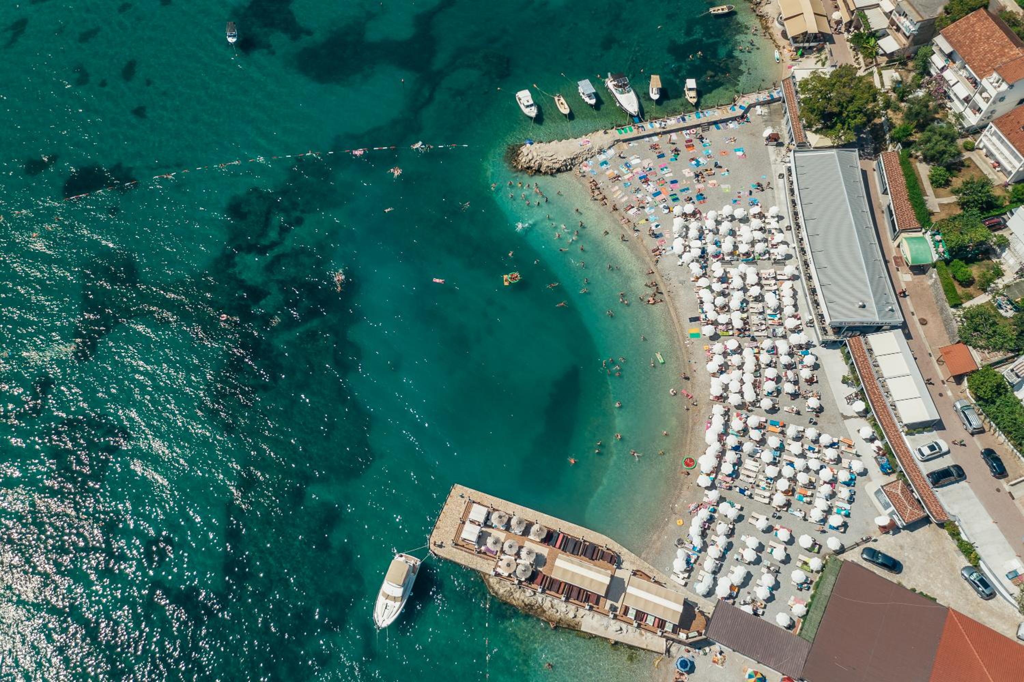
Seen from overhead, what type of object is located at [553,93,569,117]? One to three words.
boat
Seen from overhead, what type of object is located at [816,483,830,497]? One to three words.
umbrella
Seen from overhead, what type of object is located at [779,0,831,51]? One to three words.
building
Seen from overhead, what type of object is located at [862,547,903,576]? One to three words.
car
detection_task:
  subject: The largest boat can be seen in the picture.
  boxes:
[374,548,422,629]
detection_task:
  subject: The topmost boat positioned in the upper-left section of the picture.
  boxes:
[224,16,237,45]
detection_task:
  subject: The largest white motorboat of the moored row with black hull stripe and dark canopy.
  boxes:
[601,68,638,117]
